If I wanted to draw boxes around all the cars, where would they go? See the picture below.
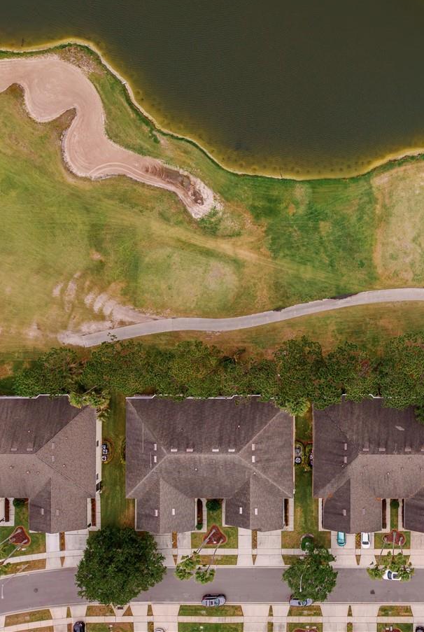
[290,595,313,608]
[335,532,346,549]
[360,532,372,551]
[73,618,86,632]
[202,594,226,607]
[382,569,402,581]
[415,624,424,632]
